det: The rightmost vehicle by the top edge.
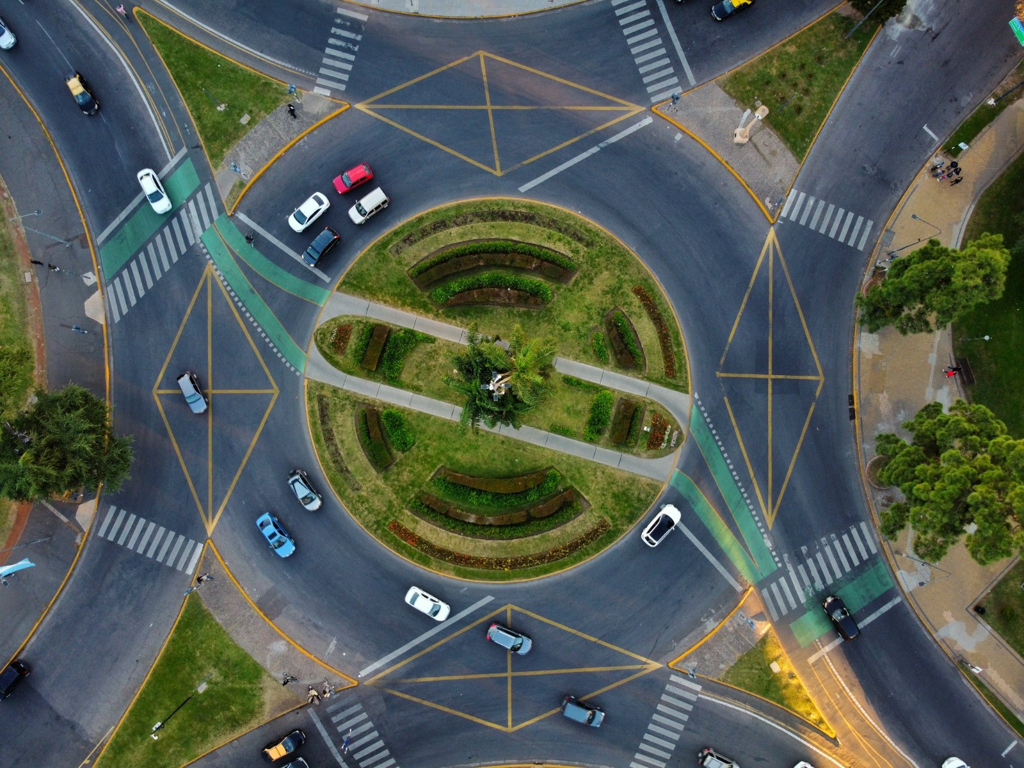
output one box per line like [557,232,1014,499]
[710,0,759,25]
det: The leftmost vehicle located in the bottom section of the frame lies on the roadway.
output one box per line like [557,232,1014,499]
[0,659,31,701]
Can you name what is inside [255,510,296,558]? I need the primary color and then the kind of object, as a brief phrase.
blue car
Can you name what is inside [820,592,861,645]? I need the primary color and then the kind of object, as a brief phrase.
black car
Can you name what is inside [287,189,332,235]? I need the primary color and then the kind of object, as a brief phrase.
white car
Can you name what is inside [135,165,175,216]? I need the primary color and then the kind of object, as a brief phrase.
white car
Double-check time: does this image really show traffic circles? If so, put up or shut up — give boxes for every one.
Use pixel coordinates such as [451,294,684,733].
[303,195,692,584]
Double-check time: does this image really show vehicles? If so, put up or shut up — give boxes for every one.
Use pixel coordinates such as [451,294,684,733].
[484,621,532,655]
[284,467,324,512]
[641,502,681,551]
[820,592,861,645]
[402,585,451,621]
[347,184,392,224]
[287,189,332,235]
[273,752,314,768]
[710,0,759,25]
[65,69,104,119]
[135,165,175,216]
[261,725,311,764]
[301,223,342,269]
[255,510,296,558]
[174,368,211,415]
[330,161,376,196]
[0,659,31,701]
[698,742,745,768]
[0,8,21,51]
[940,750,968,768]
[560,694,604,727]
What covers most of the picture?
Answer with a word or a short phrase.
paved ground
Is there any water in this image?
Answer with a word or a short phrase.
No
